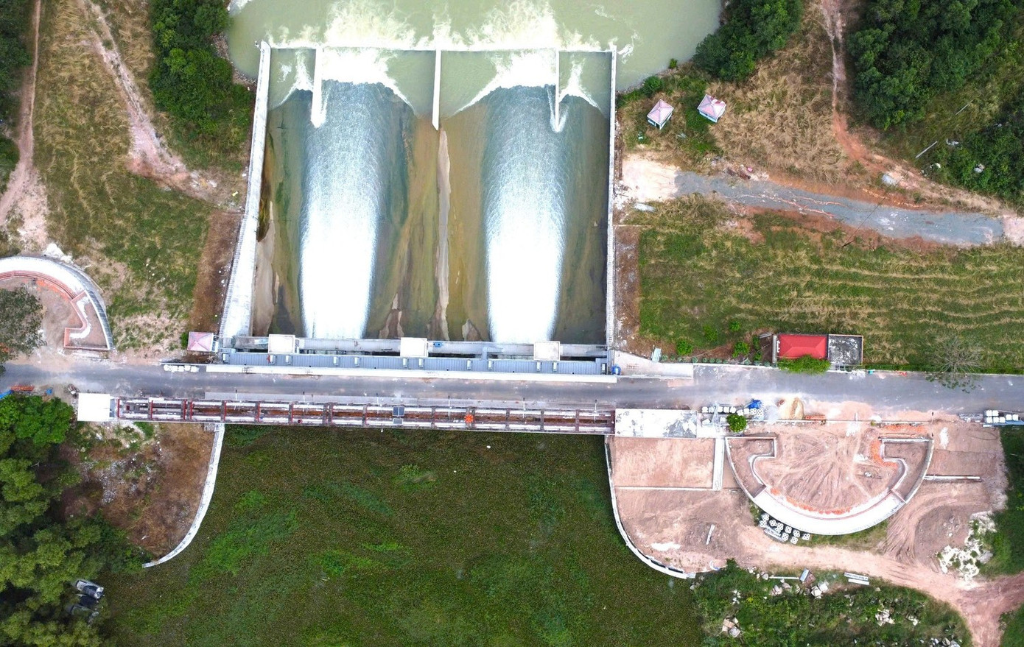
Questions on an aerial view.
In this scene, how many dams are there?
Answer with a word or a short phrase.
1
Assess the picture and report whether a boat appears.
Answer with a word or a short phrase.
No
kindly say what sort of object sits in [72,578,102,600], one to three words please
car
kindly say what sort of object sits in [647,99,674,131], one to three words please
building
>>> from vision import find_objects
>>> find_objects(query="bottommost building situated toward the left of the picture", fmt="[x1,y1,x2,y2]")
[77,393,122,421]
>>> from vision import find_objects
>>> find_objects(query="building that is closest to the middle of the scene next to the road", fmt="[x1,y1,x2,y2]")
[615,409,696,437]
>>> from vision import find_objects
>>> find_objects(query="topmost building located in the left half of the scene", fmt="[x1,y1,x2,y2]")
[187,332,219,352]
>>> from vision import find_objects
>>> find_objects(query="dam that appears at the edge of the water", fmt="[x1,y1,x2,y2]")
[205,42,617,410]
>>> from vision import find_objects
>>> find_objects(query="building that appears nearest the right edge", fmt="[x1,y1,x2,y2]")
[776,335,863,368]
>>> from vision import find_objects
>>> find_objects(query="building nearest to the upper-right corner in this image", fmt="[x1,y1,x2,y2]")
[696,94,726,124]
